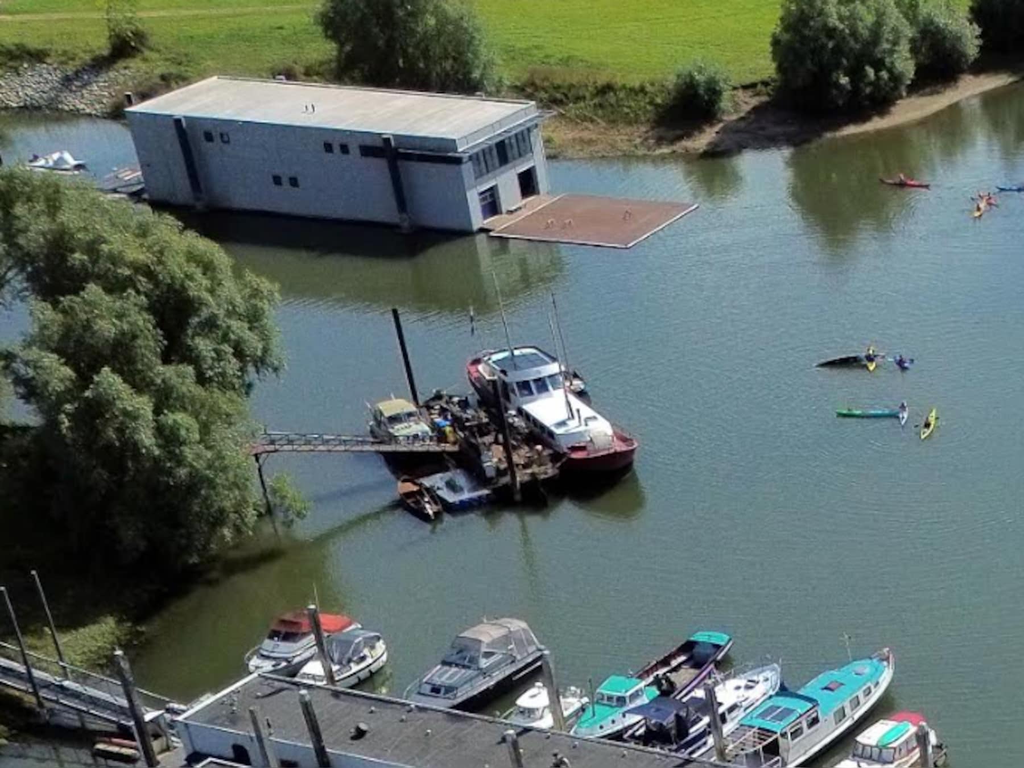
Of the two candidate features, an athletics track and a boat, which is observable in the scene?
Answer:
boat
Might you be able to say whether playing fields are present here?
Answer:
No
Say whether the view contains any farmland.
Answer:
No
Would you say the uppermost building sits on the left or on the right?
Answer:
left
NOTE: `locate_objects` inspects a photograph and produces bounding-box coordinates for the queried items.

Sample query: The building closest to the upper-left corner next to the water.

[123,74,556,235]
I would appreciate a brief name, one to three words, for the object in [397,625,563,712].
boat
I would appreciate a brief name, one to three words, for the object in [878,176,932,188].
boat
